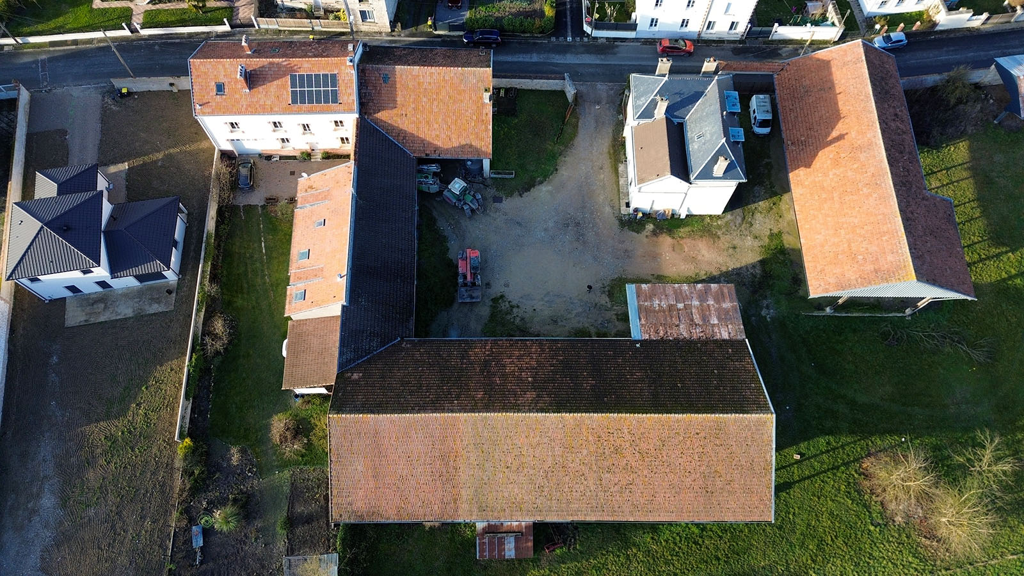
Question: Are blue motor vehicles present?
Yes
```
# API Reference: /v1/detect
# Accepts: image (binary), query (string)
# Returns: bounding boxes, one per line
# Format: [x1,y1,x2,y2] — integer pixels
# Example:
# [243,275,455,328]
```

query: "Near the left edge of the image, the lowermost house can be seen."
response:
[6,163,190,295]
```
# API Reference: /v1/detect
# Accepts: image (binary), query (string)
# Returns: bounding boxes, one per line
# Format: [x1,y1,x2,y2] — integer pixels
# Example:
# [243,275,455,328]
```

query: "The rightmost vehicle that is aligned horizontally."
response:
[874,31,914,50]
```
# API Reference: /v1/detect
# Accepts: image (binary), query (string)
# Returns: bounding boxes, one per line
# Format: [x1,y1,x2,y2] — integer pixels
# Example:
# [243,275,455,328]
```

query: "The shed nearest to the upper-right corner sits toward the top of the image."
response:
[935,0,985,29]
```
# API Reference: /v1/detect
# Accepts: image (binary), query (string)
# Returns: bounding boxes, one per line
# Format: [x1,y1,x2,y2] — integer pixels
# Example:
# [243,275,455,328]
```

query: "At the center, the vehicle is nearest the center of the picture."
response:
[455,244,482,305]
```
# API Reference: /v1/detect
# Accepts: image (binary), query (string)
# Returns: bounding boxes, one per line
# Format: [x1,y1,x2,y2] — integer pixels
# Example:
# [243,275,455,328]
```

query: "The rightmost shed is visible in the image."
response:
[986,59,1024,131]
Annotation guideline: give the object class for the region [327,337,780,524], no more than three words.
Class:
barn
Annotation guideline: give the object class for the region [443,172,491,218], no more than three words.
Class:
work vehicle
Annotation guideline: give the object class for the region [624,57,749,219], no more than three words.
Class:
house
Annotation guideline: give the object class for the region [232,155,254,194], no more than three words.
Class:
car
